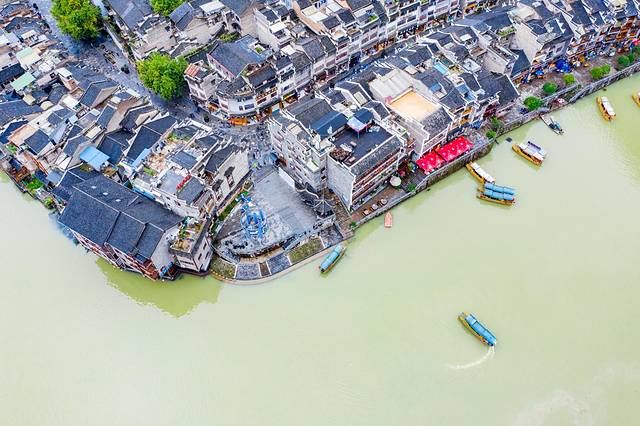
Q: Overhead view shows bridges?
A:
No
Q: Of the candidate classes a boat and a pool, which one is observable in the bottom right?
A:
boat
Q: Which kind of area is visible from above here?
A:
residential area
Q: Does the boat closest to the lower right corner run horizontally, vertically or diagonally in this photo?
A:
diagonally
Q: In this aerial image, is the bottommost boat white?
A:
No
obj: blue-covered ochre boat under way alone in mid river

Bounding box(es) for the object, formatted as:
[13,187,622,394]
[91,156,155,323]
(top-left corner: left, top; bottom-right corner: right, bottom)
[459,315,498,349]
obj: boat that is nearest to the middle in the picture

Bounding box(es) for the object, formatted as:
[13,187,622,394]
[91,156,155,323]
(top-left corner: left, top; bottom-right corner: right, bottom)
[319,244,347,274]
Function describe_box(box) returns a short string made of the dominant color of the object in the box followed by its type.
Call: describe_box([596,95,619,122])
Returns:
white boat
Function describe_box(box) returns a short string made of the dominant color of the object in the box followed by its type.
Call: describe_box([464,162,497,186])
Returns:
white boat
